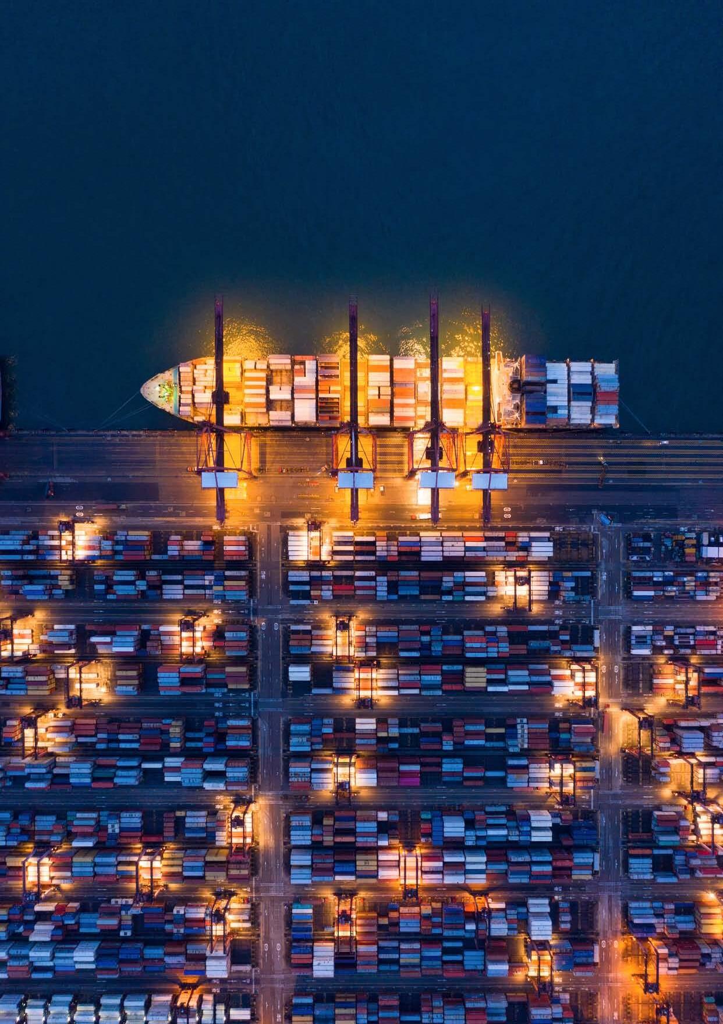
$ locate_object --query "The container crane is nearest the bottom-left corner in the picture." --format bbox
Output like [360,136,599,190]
[23,843,55,903]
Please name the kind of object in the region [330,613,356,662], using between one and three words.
container crane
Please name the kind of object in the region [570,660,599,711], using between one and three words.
container crane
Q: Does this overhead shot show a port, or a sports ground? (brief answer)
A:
port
